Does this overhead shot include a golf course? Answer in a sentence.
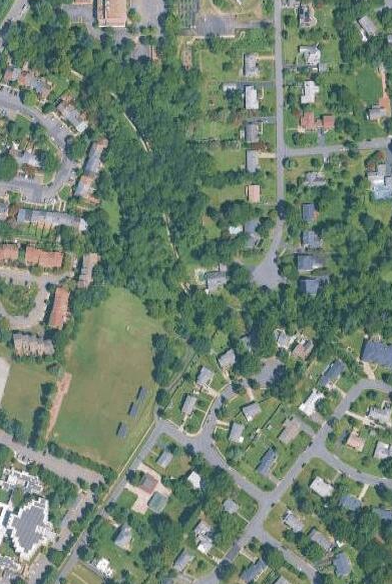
No, there's no golf course here.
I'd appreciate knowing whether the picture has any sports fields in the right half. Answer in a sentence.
No, no sports field can be made out in the right half.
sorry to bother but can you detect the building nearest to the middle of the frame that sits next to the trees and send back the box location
[204,265,227,290]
